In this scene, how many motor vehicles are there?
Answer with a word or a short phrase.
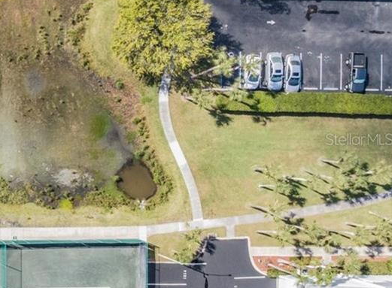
4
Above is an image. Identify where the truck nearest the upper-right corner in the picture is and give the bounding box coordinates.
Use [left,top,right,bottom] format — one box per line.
[347,52,368,93]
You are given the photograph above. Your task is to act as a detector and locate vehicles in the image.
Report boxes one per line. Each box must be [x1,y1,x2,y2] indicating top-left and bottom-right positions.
[242,62,263,91]
[265,53,285,89]
[283,54,304,92]
[347,52,368,93]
